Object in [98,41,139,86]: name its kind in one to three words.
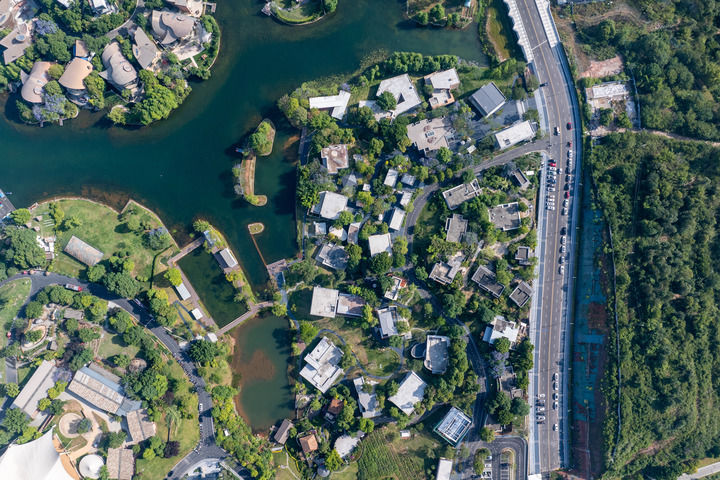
house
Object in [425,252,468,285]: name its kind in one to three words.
house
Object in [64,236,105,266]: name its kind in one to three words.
building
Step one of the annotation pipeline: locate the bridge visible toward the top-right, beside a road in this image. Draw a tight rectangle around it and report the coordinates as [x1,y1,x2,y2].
[506,0,563,61]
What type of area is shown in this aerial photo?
residential area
